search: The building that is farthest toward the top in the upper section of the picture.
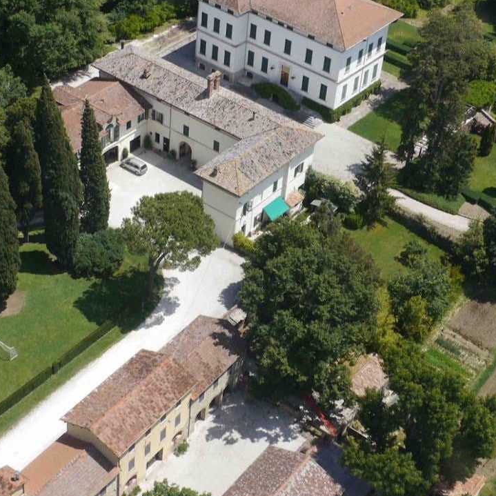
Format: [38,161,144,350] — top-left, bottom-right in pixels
[195,0,404,109]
